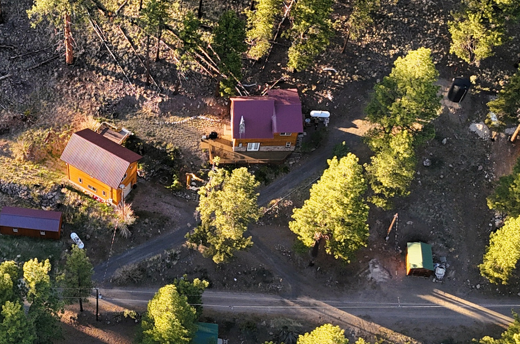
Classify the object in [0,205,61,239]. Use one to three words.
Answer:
shed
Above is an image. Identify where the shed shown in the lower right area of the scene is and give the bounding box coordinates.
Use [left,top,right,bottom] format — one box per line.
[404,239,433,277]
